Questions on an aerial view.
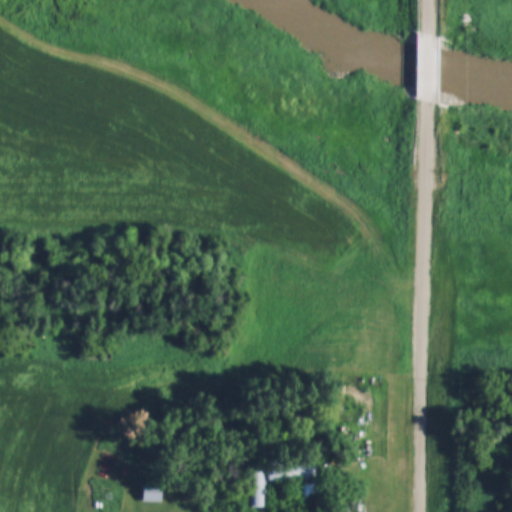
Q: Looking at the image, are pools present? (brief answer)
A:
No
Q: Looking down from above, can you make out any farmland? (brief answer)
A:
Yes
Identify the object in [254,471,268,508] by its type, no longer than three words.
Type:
house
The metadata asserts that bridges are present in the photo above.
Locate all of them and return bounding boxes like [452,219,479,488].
[418,32,441,105]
